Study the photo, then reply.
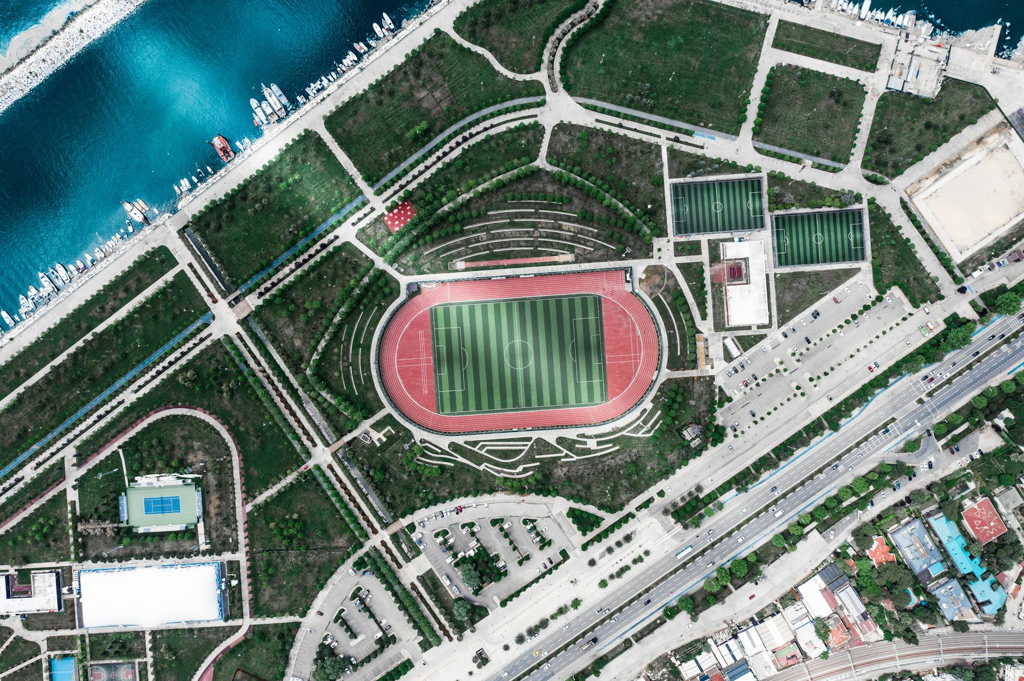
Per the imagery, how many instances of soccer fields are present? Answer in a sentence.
In total, there are 3 soccer fields in the scene.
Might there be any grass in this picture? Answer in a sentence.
Yes, there's grass in this view.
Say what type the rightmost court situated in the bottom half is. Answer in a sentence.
Looking closely, the rightmost court situated in the bottom half is a tennis court.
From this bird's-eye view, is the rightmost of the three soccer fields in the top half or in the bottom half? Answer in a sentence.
Seen from above, the rightmost of the three soccer fields lies in the top half of the view.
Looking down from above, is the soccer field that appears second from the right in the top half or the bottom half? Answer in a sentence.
The soccer field that appears second from the right is in the top half of the image.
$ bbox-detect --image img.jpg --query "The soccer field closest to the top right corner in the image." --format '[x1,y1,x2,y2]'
[771,206,872,269]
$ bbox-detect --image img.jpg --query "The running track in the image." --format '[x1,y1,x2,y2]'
[380,271,659,434]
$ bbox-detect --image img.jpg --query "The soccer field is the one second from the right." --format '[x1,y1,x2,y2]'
[669,174,770,238]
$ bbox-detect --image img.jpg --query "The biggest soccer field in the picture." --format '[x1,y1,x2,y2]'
[428,294,608,416]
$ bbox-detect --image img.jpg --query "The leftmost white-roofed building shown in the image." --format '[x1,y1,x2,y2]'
[0,566,68,614]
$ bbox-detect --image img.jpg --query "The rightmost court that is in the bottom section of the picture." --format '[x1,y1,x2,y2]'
[118,476,204,537]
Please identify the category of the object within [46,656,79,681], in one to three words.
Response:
tennis court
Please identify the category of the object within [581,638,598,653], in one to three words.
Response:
vehicle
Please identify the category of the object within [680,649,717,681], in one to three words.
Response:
building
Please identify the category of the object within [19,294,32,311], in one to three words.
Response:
boat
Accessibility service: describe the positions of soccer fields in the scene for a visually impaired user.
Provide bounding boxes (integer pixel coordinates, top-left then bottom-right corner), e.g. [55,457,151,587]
[428,294,608,416]
[669,174,770,238]
[771,206,872,269]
